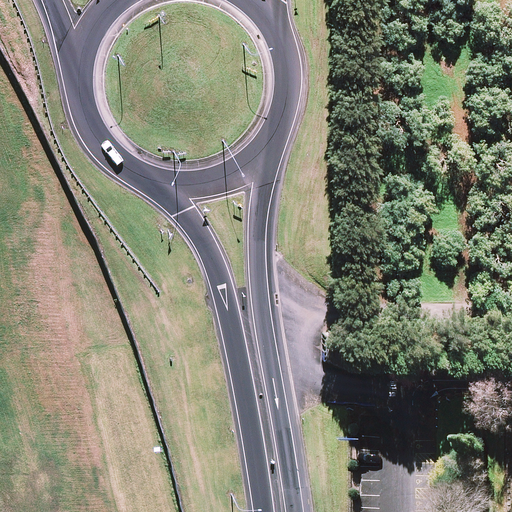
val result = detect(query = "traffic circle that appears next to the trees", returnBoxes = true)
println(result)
[66,0,301,196]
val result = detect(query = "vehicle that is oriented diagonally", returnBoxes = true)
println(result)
[101,140,124,166]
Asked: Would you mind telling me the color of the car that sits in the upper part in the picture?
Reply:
white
